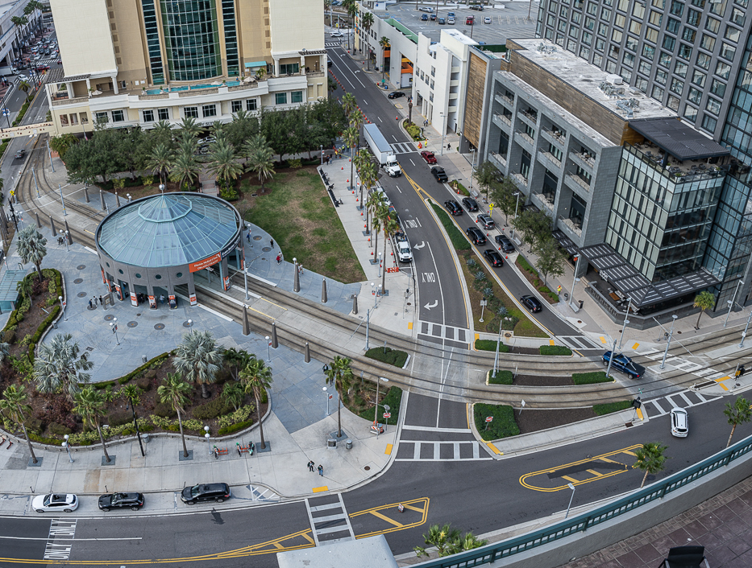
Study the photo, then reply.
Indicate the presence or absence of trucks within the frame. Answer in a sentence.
Yes, there's a truck down there.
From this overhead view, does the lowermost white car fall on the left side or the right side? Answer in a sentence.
The lowermost white car is on the left side of the image.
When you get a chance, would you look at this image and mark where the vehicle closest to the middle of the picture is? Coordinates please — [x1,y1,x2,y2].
[397,241,412,263]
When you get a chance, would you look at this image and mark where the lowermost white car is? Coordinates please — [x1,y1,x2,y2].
[32,492,79,516]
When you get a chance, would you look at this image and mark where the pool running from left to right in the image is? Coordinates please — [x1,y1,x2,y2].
[146,80,240,93]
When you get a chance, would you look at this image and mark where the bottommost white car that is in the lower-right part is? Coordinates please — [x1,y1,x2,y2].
[668,410,691,440]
